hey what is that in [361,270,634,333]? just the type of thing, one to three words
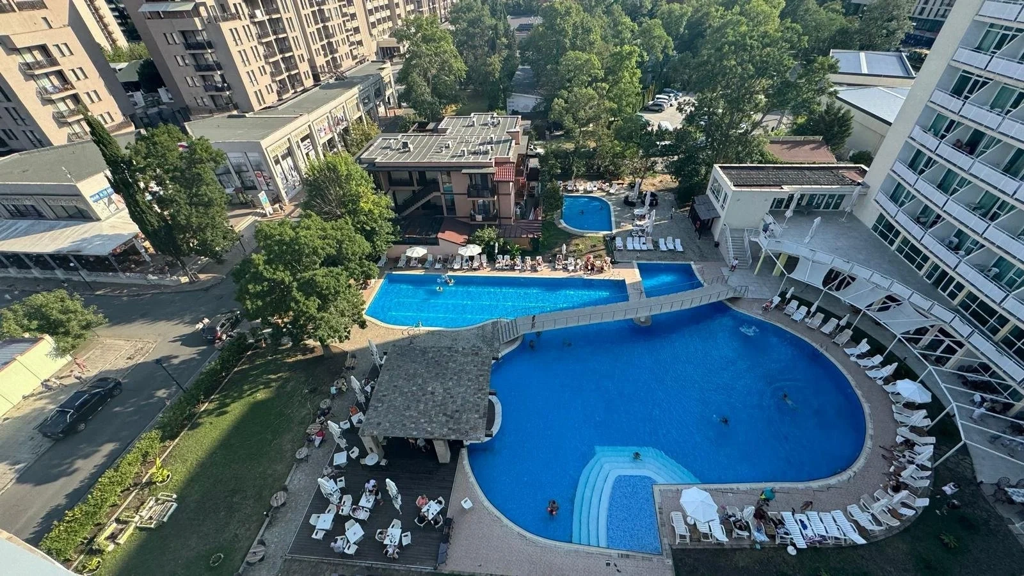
swimming pool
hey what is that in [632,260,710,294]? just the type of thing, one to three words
swimming pool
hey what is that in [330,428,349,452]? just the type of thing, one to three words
umbrella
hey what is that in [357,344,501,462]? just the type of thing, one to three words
building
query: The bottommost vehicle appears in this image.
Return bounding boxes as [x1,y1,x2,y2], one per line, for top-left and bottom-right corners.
[36,375,124,440]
